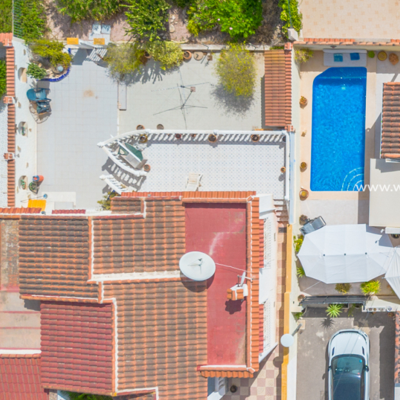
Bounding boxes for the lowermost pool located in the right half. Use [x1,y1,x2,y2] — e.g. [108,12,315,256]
[311,67,366,191]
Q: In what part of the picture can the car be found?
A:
bottom right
